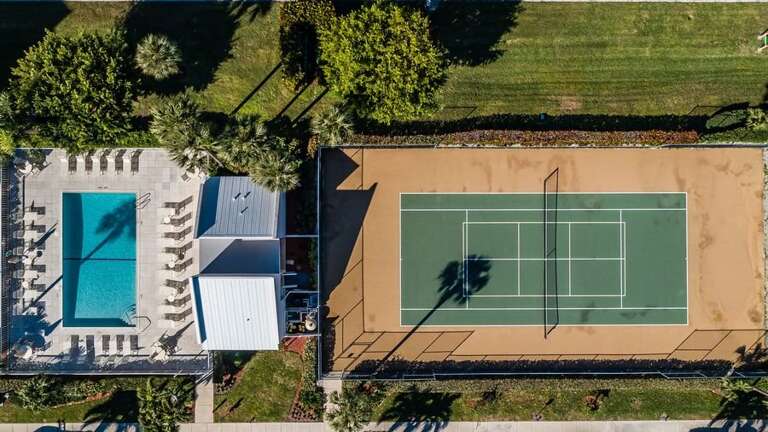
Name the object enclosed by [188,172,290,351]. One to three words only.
building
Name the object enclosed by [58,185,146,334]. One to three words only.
swimming pool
